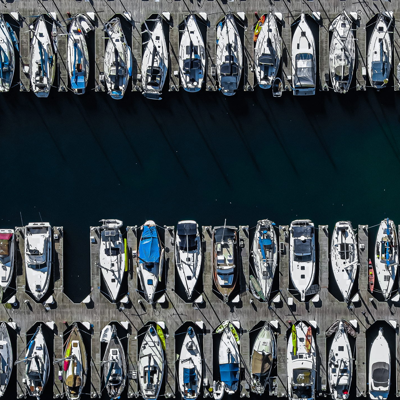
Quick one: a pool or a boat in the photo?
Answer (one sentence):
I can see a boat in this picture.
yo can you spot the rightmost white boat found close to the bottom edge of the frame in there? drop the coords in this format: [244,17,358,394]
[365,328,396,400]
